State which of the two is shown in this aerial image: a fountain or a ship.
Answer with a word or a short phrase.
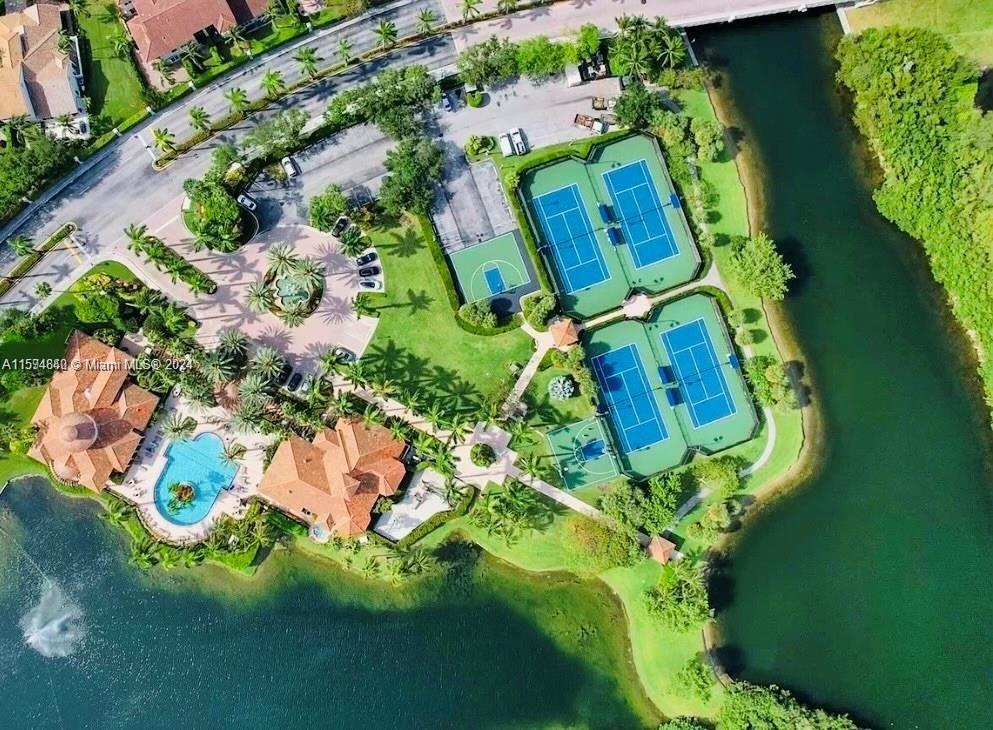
fountain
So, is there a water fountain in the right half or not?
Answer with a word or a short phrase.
No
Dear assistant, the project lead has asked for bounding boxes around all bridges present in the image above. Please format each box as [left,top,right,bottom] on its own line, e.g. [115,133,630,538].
[671,0,880,28]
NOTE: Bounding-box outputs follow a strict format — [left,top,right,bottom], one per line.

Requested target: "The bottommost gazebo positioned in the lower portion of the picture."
[646,532,677,562]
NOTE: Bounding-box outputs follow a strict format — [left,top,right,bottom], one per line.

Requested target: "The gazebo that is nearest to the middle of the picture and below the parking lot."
[550,318,579,347]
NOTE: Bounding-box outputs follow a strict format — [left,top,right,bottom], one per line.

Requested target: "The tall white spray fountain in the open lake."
[26,563,105,653]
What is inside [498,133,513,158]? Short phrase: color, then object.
white vehicle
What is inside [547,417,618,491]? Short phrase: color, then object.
green basketball court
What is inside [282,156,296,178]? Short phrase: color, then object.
white vehicle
